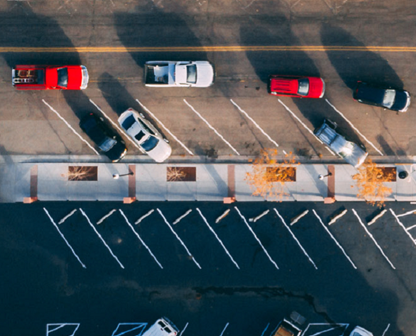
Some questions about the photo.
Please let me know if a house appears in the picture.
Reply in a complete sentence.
No, no house is visible in the scene.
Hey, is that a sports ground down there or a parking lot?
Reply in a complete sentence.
This looks like a parking lot.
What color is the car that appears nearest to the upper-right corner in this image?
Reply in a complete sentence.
The car that appears nearest to the upper-right corner looks black in the image.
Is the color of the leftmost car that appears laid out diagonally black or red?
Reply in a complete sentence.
The leftmost car that appears laid out diagonally is black.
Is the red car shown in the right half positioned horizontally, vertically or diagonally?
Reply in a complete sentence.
In this picture, the red car shown in the right half lies horizontally.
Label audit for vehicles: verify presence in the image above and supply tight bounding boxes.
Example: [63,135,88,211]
[351,80,411,113]
[349,325,374,336]
[141,314,179,336]
[78,112,128,163]
[116,108,172,165]
[266,73,327,99]
[269,318,303,336]
[310,116,370,169]
[10,62,91,93]
[142,58,216,88]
